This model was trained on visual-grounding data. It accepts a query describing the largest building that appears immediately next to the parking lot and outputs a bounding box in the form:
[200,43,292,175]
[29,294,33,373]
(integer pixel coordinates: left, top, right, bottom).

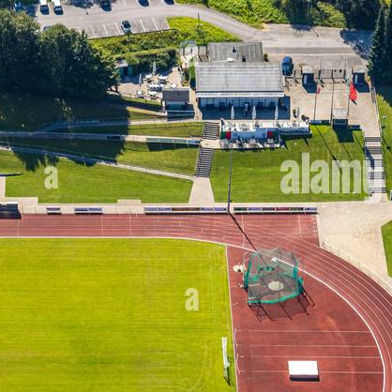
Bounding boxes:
[195,42,286,106]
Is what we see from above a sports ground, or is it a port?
sports ground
